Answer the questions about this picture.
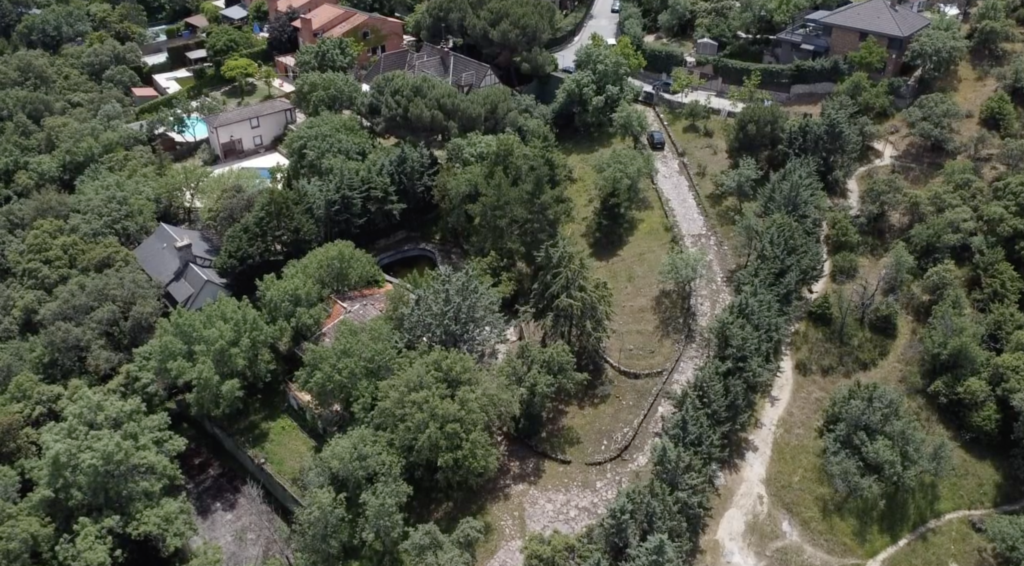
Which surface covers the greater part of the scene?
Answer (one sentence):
For the most part, this view shows trees.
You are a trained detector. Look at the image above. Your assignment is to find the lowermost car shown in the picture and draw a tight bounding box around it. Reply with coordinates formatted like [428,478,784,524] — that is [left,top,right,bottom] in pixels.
[647,129,667,147]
